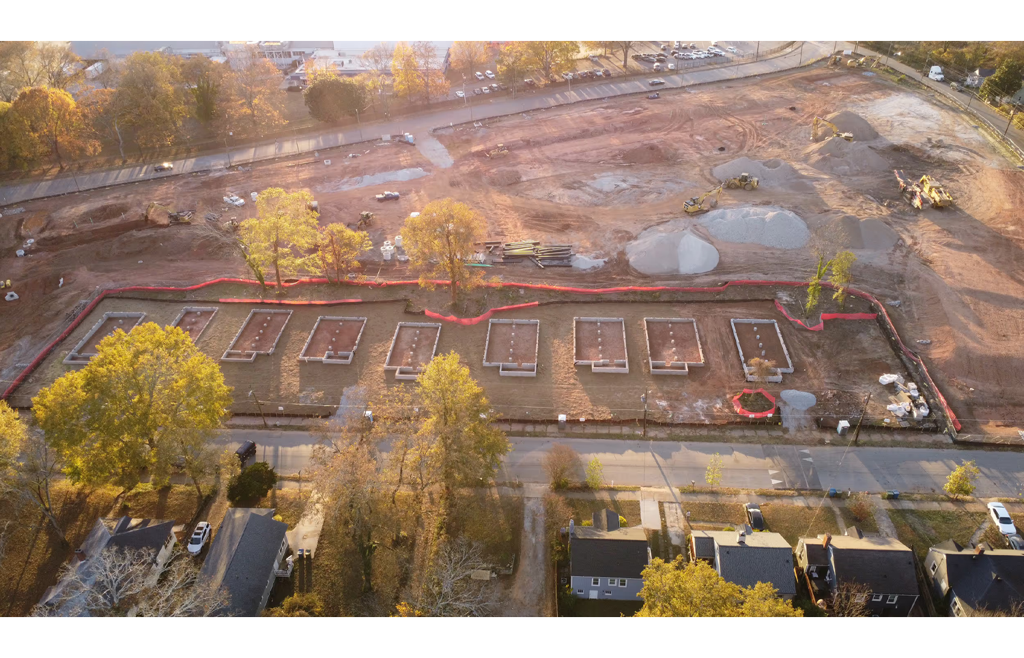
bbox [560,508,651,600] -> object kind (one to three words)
house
